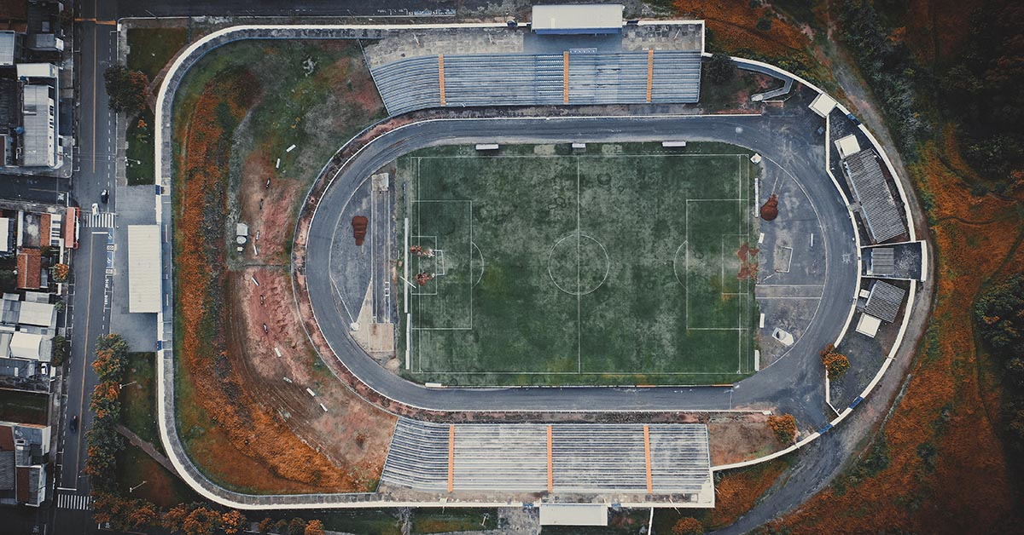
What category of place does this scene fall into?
sports ground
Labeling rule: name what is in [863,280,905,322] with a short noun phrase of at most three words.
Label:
shed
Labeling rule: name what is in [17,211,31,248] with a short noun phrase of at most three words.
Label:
house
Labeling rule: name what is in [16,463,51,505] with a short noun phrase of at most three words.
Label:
house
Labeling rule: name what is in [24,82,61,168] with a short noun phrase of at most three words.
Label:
building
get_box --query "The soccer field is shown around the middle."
[397,142,759,389]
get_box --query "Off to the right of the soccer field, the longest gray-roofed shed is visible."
[843,149,905,243]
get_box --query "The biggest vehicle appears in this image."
[66,207,81,249]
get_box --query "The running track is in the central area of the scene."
[306,114,858,412]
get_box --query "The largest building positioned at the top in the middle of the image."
[531,3,623,35]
